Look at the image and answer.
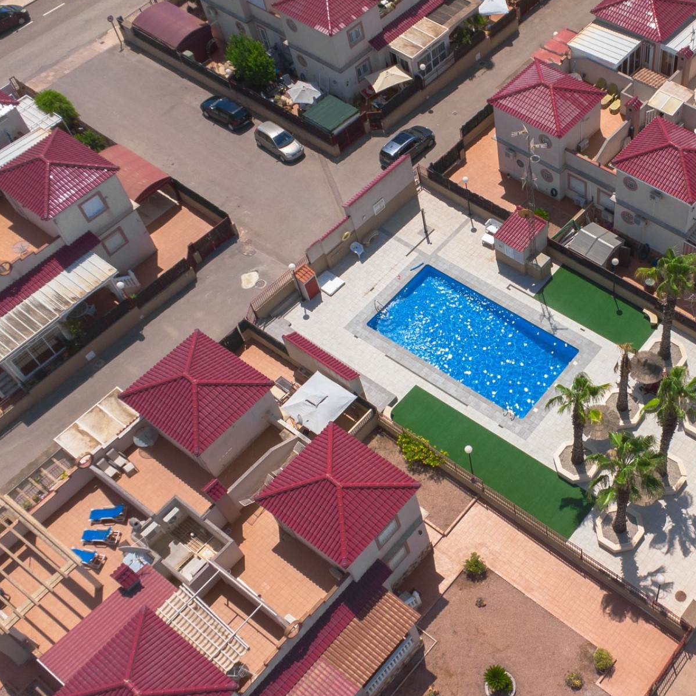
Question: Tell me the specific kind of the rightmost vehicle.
car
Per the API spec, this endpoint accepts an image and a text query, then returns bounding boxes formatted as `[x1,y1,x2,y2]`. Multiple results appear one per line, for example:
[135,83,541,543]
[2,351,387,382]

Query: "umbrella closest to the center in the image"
[278,367,362,436]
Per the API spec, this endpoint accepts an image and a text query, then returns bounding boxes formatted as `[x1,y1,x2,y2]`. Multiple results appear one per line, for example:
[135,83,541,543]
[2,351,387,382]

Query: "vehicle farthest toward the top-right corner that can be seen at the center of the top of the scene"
[370,123,442,171]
